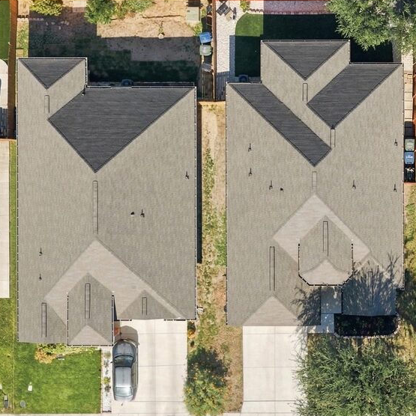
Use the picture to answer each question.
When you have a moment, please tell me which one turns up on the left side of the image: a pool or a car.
car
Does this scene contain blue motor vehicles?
No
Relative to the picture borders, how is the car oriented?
up and down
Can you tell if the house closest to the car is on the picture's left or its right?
left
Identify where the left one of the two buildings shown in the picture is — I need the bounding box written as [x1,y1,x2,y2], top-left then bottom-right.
[17,57,197,347]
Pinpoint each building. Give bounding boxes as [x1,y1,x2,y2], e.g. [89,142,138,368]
[17,57,197,347]
[225,39,404,327]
